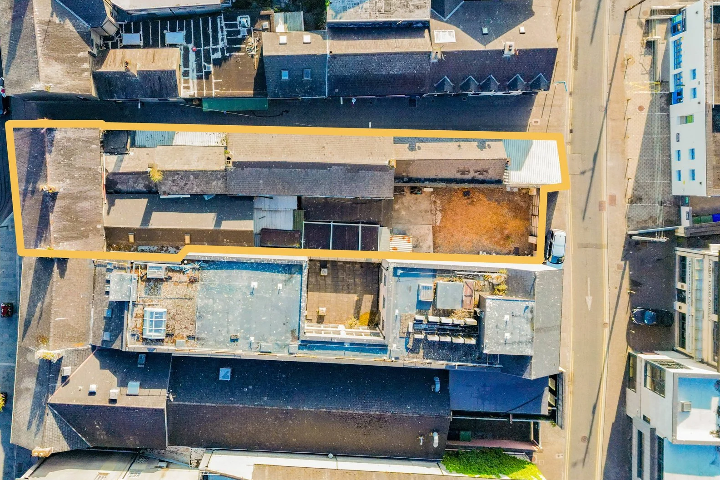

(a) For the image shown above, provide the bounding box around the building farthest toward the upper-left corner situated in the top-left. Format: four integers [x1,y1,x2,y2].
[0,0,122,106]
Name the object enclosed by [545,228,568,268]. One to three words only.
car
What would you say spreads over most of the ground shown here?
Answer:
buildings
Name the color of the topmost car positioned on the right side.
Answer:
white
